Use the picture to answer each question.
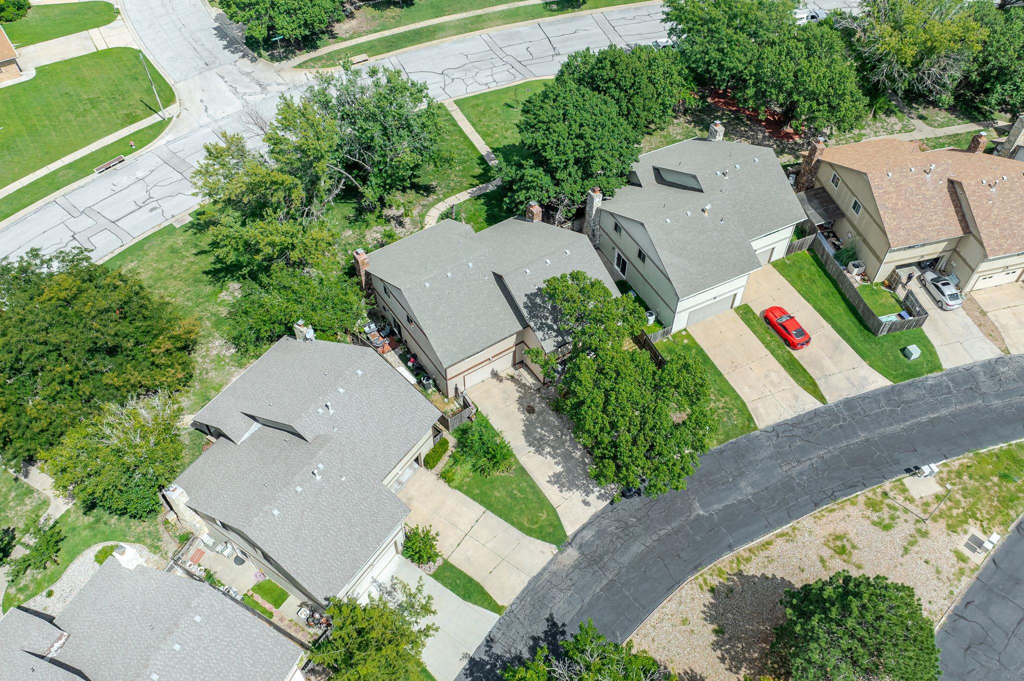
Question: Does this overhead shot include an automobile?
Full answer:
Yes, an automobile can be made out from above.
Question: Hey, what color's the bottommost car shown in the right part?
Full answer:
From above, the bottommost car shown in the right part appears red.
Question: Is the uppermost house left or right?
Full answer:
The uppermost house appears in the left half of the scene.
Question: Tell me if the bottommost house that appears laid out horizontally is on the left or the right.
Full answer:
The bottommost house that appears laid out horizontally sits on the left side.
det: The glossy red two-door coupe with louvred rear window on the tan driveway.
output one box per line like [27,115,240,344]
[764,305,813,349]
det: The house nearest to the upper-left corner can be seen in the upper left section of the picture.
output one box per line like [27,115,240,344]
[0,19,41,81]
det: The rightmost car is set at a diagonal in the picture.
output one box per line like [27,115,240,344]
[922,270,968,311]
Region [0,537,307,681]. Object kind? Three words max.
house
